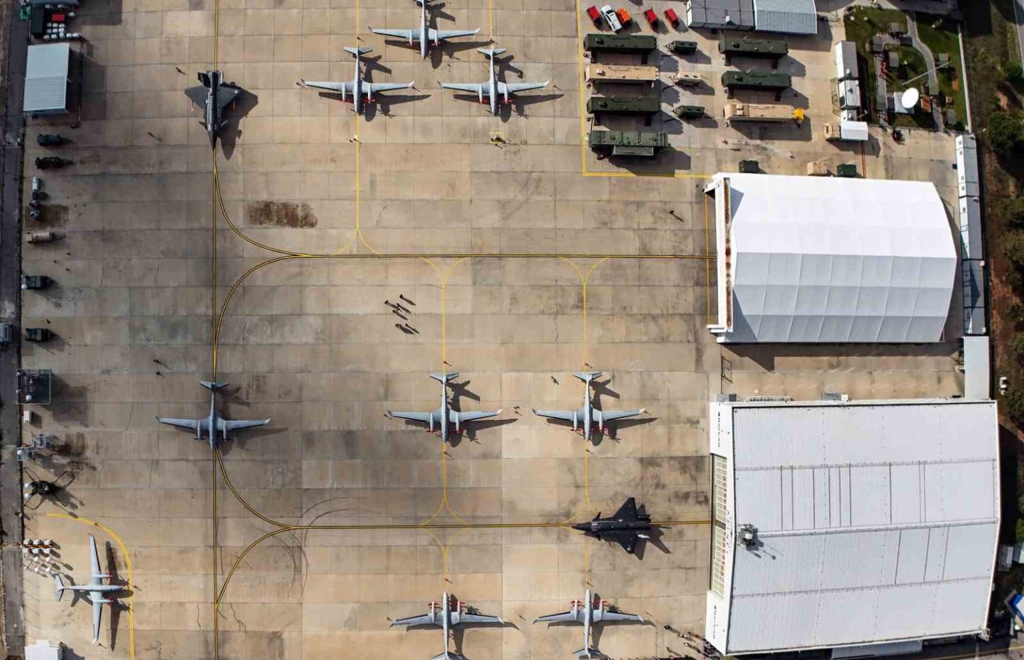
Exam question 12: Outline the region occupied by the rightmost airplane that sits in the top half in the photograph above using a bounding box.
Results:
[439,42,547,113]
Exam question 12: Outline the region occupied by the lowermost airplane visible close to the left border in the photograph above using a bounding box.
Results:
[47,537,121,642]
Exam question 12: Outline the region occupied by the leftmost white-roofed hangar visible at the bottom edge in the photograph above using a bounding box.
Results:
[706,398,1003,659]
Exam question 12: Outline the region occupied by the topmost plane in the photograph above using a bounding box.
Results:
[372,0,476,55]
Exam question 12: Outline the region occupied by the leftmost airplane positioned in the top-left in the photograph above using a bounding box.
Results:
[186,70,241,148]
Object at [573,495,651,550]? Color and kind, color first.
black airplane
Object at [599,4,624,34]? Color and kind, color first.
white truck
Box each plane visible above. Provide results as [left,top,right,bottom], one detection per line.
[439,42,547,113]
[47,537,121,642]
[532,373,644,441]
[388,591,503,660]
[573,495,651,550]
[372,0,476,55]
[186,70,241,148]
[303,42,410,110]
[153,380,268,448]
[387,373,501,440]
[534,591,644,660]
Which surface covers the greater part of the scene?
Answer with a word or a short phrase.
paved ground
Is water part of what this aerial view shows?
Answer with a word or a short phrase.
No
